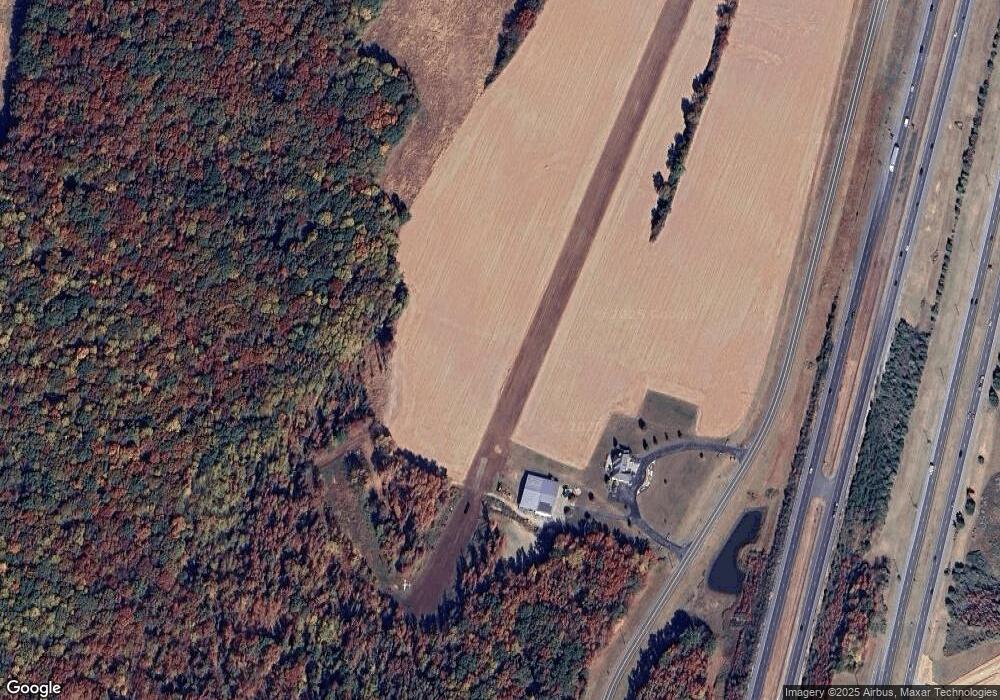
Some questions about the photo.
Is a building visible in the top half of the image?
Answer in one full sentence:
No, there's no building to be seen in the top half of the image.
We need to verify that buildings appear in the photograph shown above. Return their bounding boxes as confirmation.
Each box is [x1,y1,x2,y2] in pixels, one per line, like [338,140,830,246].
[520,474,558,517]
[607,449,643,487]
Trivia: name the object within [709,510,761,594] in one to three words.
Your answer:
pond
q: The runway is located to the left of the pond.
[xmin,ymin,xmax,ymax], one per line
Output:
[398,0,692,616]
